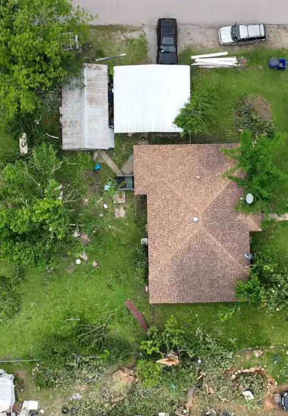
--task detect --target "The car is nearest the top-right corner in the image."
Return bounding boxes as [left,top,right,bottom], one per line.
[216,25,267,48]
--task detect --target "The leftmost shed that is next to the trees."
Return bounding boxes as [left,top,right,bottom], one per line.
[59,63,113,150]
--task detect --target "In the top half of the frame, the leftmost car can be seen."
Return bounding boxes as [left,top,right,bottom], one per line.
[155,16,180,65]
